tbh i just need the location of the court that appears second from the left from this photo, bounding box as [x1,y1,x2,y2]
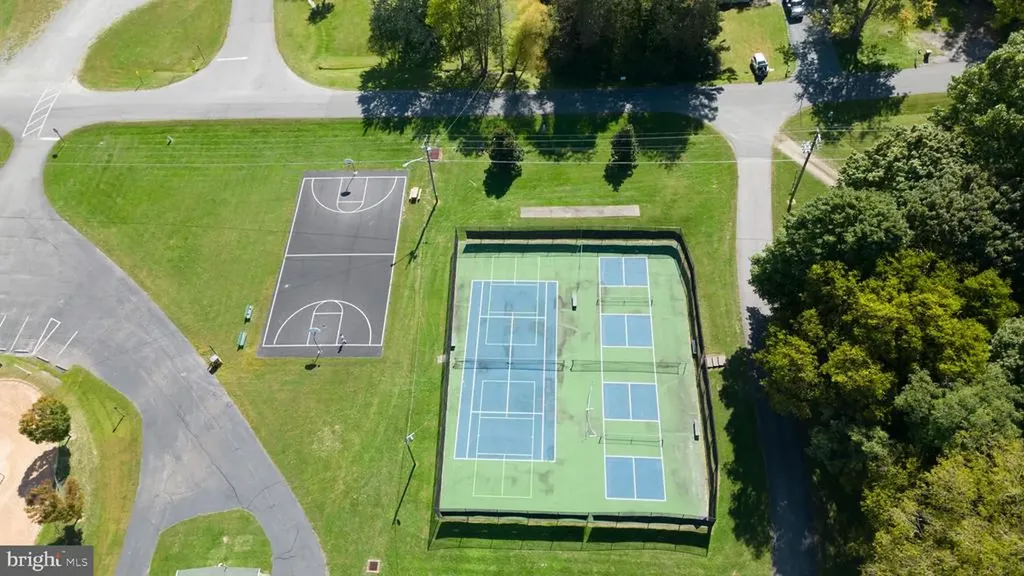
[454,255,558,498]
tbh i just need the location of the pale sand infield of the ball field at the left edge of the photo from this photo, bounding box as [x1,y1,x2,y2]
[0,378,64,576]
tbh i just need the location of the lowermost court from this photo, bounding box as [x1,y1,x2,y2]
[602,382,666,501]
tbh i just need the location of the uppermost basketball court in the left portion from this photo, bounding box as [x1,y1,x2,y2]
[257,171,410,357]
